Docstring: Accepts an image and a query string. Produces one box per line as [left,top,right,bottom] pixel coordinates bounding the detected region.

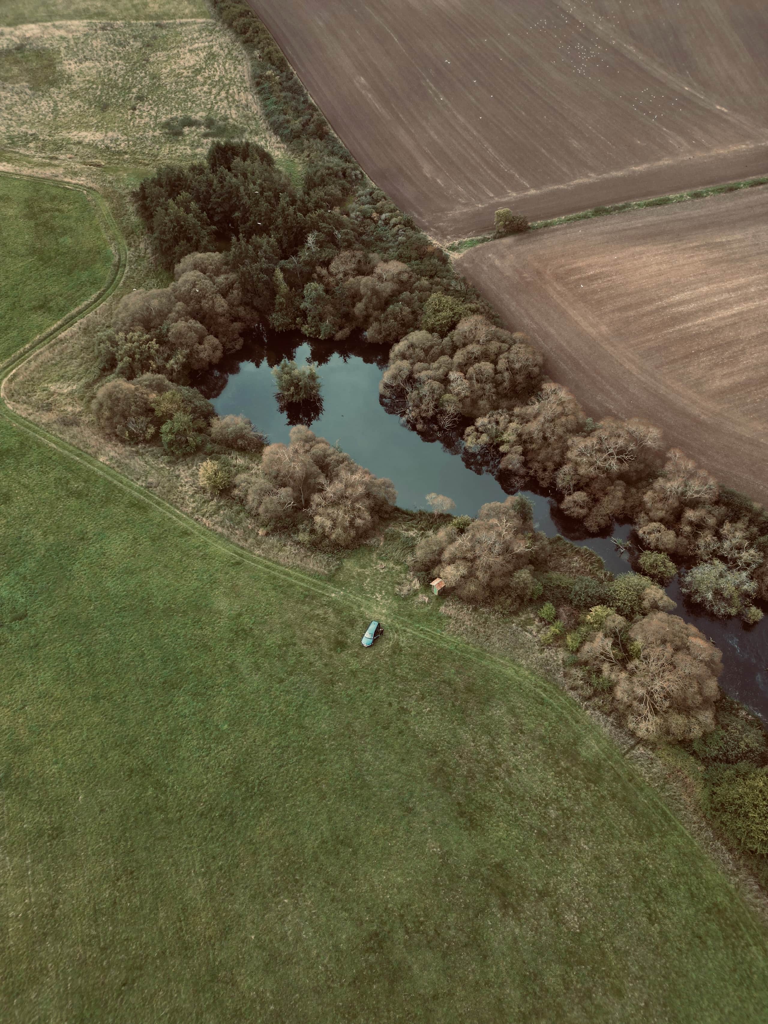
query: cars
[361,621,380,647]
